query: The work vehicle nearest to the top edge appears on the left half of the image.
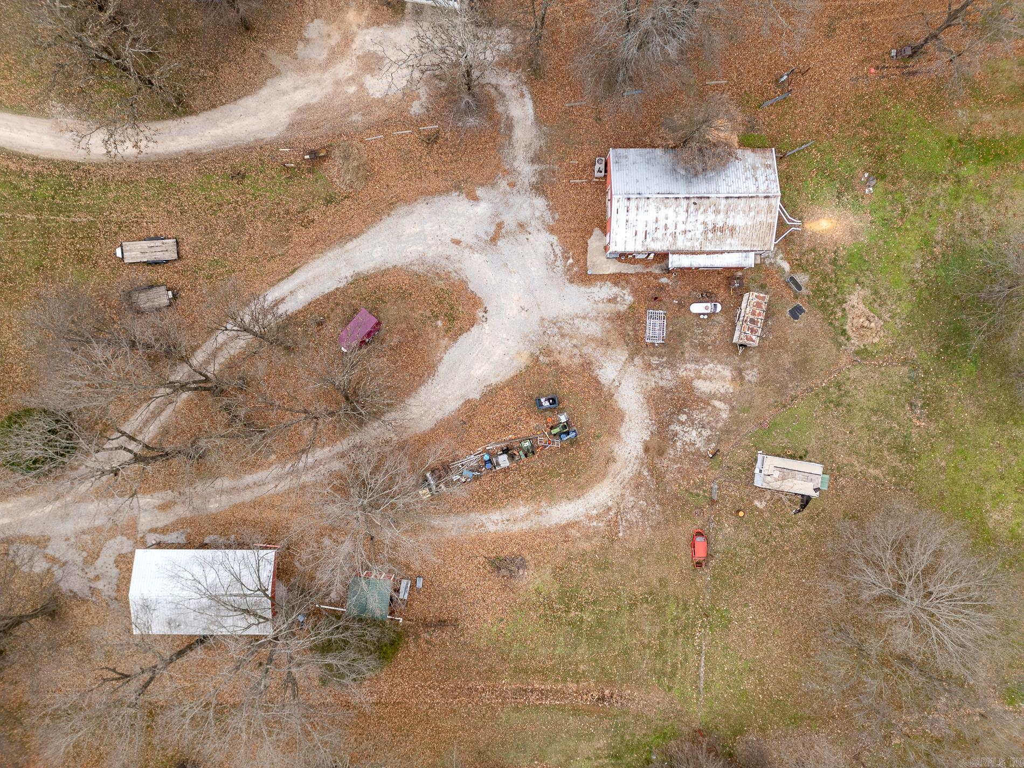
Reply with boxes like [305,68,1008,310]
[303,147,324,160]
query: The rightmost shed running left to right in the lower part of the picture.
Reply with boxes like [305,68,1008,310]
[756,451,836,498]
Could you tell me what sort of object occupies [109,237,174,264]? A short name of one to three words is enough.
trailer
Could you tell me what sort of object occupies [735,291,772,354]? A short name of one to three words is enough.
trailer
